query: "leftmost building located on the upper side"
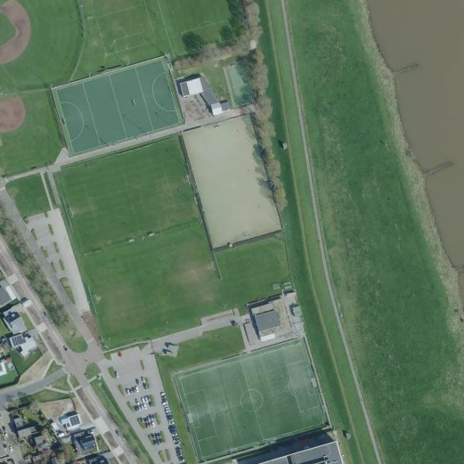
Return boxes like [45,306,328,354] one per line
[180,76,209,98]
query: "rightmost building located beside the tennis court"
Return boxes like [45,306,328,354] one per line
[200,89,230,116]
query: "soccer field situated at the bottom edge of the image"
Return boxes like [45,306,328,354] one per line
[174,337,329,463]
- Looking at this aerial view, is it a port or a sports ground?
sports ground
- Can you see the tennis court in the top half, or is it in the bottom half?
top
